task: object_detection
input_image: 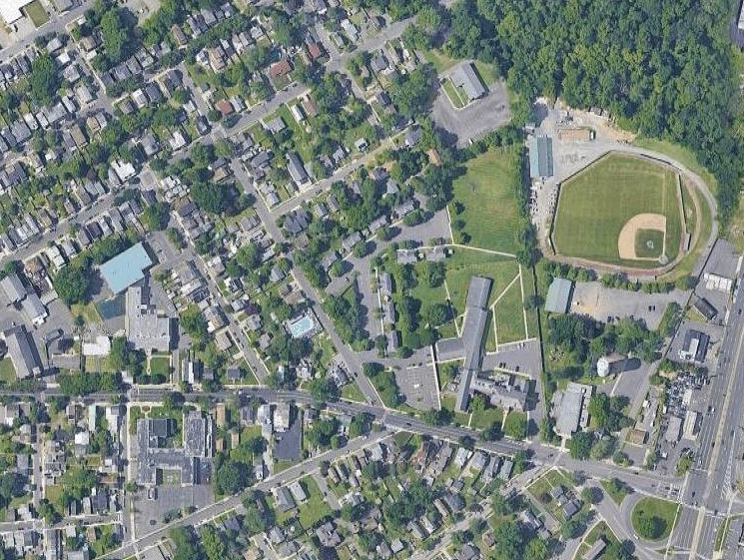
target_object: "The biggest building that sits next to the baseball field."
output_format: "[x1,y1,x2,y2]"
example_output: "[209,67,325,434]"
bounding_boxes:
[455,277,492,412]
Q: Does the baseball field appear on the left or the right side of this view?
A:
right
